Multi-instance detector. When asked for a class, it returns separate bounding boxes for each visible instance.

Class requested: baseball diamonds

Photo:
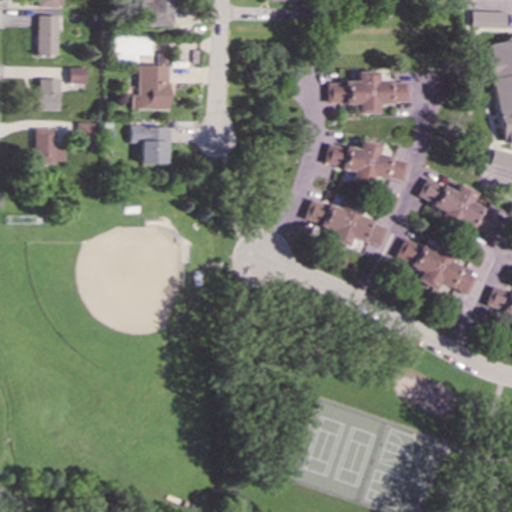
[26,216,192,374]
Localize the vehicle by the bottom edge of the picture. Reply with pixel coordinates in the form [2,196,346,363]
[166,495,190,508]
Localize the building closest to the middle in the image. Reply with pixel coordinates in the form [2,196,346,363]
[304,200,328,224]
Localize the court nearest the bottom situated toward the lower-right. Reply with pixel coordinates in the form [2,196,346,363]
[366,469,416,512]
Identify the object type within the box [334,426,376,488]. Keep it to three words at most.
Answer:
tennis court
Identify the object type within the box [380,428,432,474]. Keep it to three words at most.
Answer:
basketball court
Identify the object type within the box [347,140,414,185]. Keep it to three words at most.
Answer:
house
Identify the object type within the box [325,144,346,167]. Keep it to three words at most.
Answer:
building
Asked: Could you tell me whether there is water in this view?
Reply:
No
